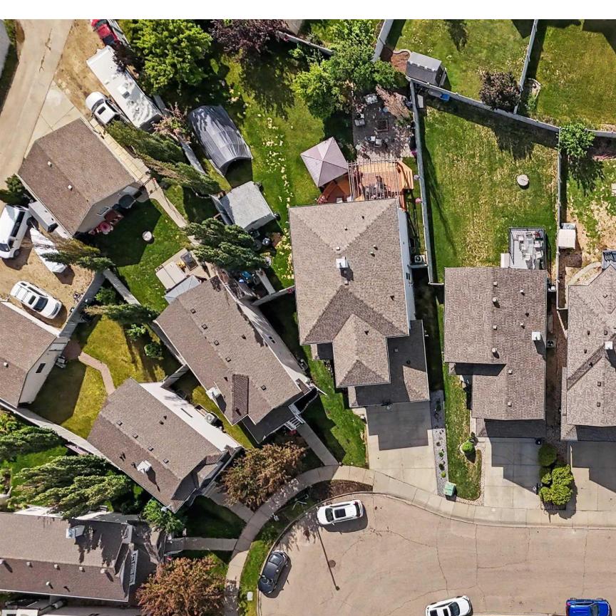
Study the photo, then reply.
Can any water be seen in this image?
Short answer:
No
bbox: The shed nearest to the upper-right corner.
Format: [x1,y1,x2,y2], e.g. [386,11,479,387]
[405,50,443,88]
